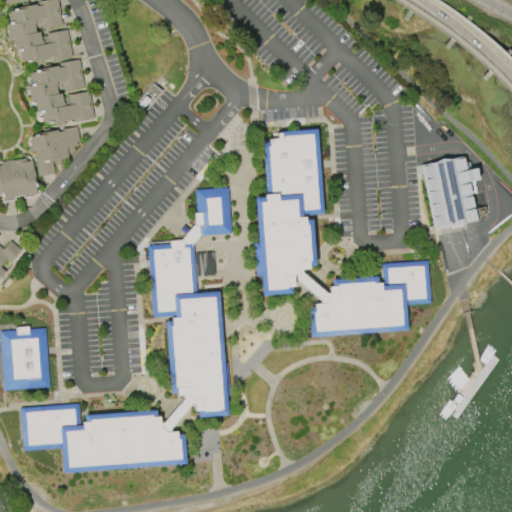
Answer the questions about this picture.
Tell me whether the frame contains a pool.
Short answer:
No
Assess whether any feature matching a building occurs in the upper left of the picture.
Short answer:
Yes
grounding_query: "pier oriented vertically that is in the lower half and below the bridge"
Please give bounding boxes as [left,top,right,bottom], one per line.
[460,292,482,368]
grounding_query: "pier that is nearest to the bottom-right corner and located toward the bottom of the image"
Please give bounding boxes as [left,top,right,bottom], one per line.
[450,354,500,419]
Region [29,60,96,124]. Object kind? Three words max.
house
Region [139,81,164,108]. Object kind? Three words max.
shed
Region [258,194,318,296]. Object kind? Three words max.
building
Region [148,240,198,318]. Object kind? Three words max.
building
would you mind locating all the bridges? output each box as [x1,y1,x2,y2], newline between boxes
[395,0,512,92]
